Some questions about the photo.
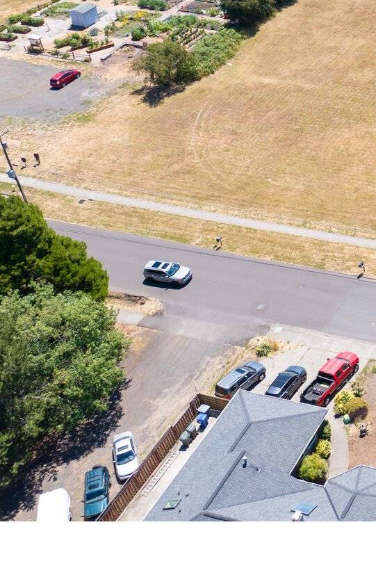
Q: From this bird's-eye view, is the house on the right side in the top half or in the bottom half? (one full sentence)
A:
The house on the right side sits in the bottom half of the picture.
